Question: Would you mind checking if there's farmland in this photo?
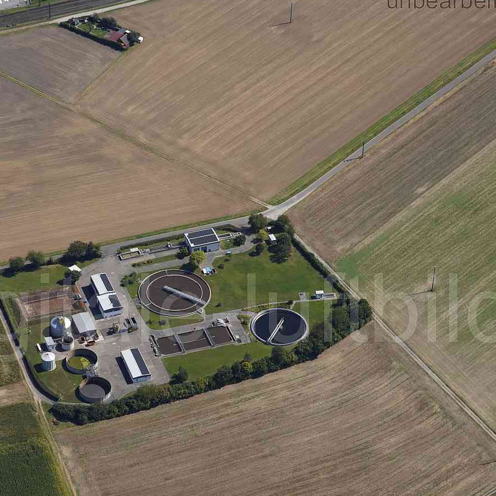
Yes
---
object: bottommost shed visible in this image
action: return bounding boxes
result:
[120,348,152,384]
